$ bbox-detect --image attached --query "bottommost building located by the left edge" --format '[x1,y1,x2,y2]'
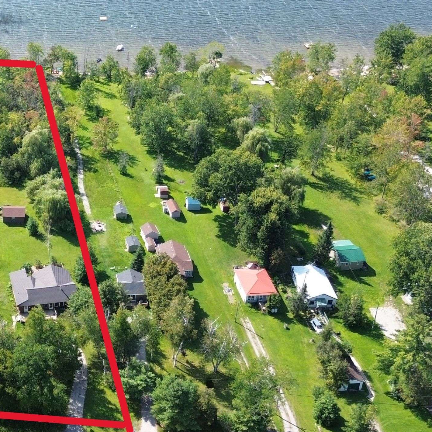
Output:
[9,261,79,331]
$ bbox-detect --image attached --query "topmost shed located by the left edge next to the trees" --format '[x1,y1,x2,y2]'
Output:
[0,205,26,223]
